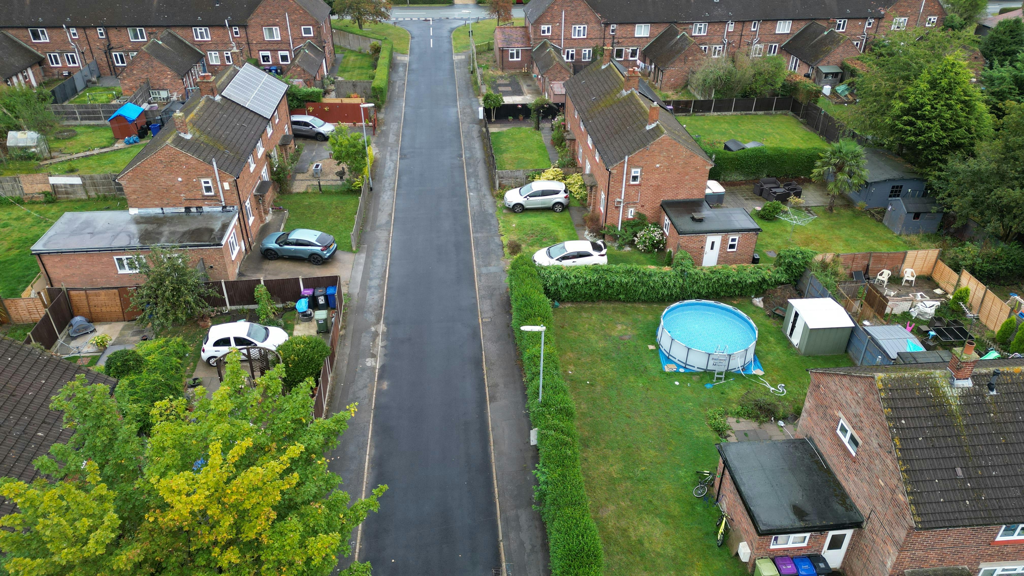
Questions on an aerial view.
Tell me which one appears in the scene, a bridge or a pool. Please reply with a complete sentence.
Looking from above, you can make out a pool.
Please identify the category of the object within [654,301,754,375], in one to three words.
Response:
swimming pool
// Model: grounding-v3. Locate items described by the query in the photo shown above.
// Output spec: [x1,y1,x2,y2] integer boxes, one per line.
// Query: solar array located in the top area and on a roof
[215,61,287,119]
